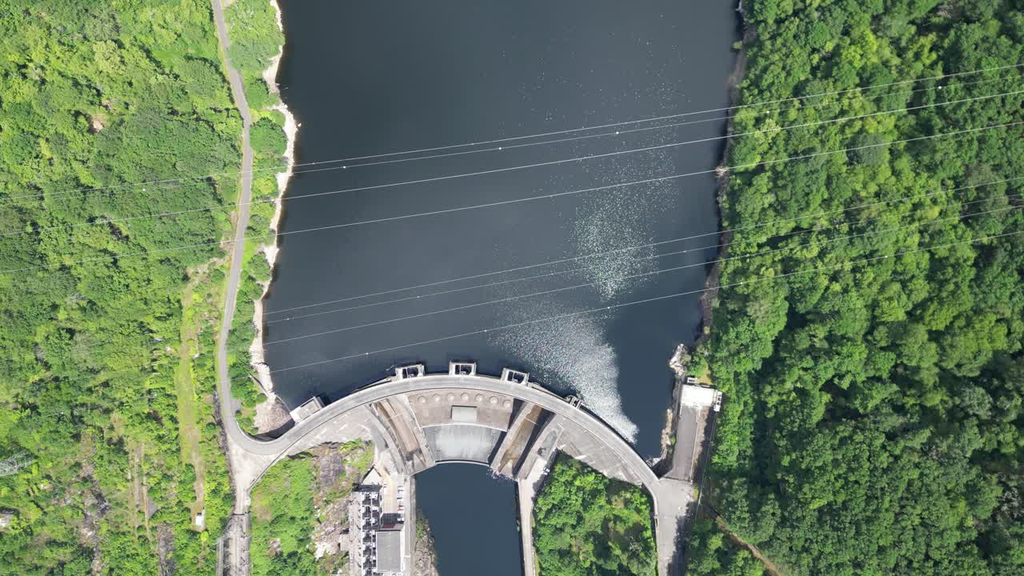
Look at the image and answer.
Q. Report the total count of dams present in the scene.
1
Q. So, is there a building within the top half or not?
No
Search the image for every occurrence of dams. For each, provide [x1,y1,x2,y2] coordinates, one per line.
[256,363,658,492]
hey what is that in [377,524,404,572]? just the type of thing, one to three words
building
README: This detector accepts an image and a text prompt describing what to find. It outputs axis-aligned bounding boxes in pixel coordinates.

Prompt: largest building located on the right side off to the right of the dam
[678,383,714,408]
